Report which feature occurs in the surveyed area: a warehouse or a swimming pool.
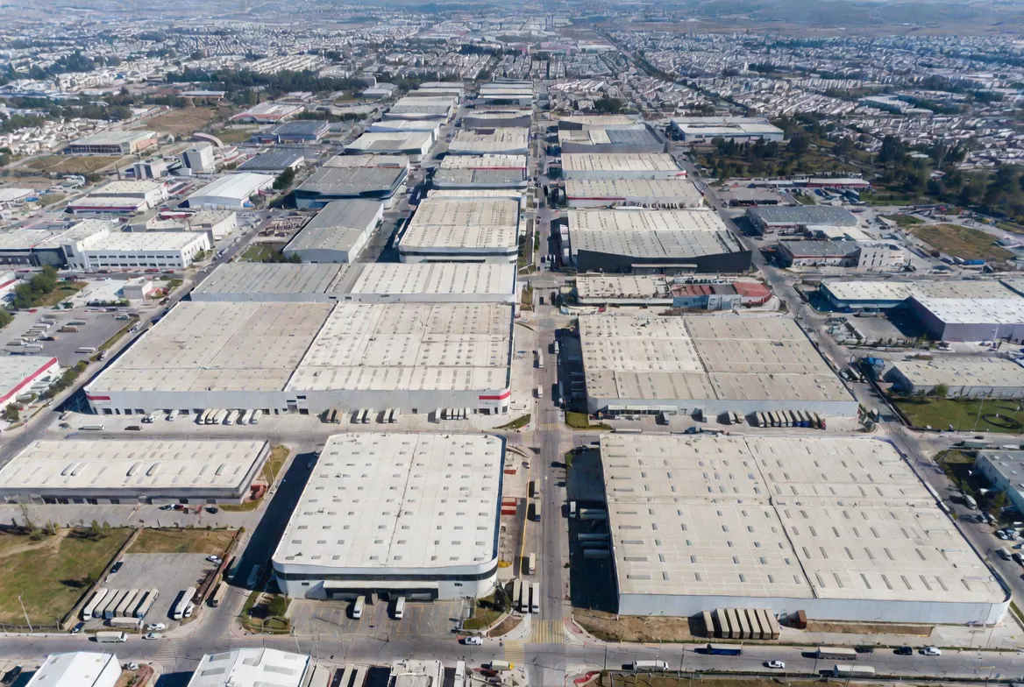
warehouse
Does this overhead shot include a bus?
Yes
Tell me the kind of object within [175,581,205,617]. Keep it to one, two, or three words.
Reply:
bus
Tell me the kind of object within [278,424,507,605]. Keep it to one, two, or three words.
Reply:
warehouse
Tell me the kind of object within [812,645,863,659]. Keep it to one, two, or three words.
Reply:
vehicle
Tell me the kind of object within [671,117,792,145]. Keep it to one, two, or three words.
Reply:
building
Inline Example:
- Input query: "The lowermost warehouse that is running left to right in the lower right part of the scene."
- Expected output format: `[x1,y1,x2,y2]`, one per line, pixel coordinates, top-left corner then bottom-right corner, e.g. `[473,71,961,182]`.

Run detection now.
[596,435,1005,621]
